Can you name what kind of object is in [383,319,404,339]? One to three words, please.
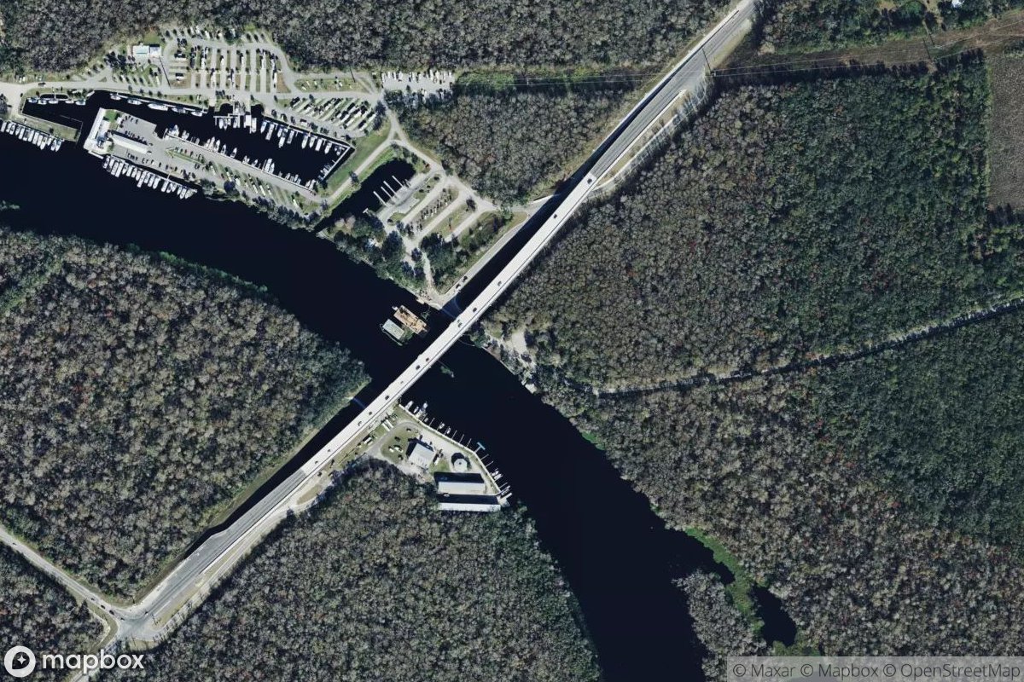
ship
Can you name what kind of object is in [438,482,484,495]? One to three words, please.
shed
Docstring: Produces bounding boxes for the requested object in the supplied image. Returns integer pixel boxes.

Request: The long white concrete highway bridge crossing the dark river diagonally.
[136,9,749,625]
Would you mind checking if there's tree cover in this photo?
Yes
